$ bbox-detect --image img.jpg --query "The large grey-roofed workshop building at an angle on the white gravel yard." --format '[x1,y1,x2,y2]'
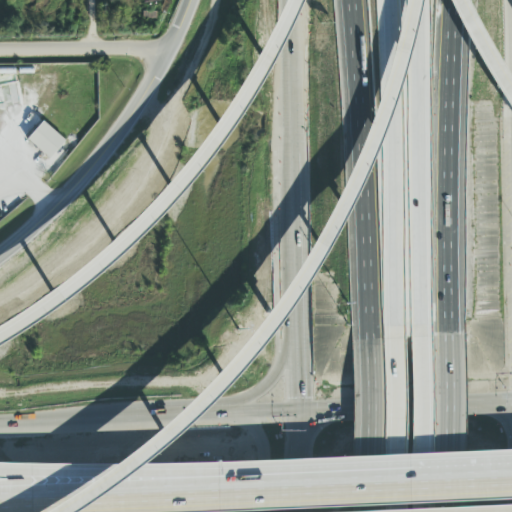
[28,120,66,158]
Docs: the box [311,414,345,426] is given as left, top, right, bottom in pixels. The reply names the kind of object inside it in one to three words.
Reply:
vehicle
